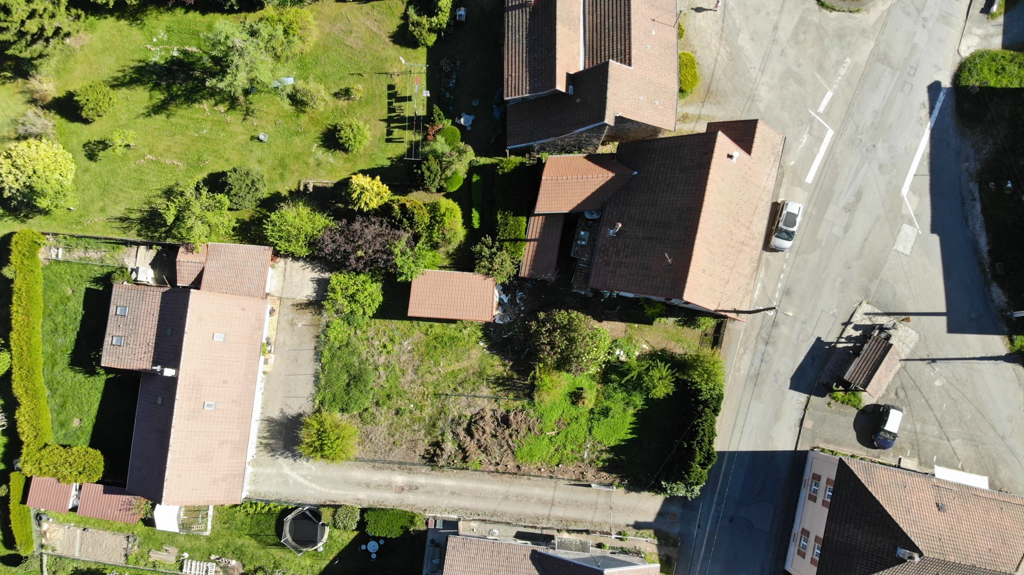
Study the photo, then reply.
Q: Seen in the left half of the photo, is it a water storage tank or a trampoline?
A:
trampoline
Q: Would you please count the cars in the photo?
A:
2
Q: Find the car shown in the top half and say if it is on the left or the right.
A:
right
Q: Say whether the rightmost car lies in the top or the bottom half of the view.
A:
bottom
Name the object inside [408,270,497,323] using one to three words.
shed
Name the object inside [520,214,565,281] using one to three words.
shed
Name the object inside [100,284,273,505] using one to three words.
house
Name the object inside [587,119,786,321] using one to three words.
house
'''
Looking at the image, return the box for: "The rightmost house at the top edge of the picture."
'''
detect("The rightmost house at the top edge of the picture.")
[504,0,681,162]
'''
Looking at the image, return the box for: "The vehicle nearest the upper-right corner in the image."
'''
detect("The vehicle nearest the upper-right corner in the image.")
[769,199,801,253]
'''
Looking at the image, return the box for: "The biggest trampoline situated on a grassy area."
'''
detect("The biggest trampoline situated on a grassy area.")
[275,508,329,562]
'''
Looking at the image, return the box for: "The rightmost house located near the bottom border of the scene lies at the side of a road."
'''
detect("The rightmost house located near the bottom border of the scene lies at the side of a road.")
[791,453,1024,575]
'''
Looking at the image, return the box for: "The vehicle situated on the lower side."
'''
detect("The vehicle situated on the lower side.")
[870,402,902,452]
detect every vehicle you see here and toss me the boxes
[870,402,902,452]
[769,199,801,253]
